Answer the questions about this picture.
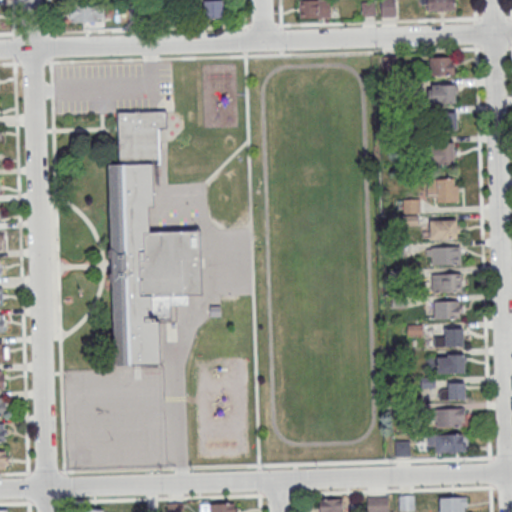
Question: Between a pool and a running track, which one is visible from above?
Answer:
running track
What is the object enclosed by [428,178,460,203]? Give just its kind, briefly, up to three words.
house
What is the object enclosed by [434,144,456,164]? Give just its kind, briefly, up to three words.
house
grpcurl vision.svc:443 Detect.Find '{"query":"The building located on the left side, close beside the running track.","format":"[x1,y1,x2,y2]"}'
[108,112,202,366]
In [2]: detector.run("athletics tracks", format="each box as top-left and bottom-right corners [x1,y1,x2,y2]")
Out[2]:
[262,64,375,446]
